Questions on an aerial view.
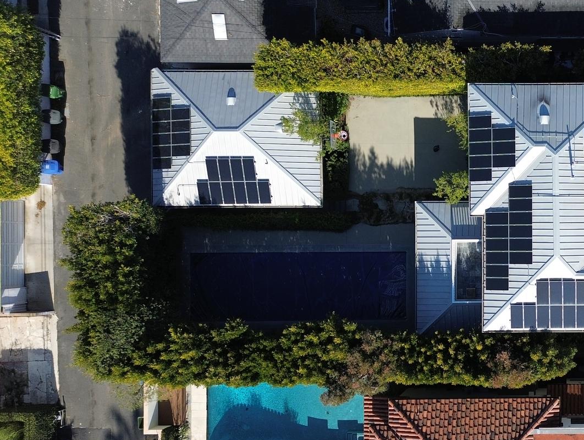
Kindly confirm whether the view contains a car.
No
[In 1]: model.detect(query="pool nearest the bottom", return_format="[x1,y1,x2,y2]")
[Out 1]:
[207,373,385,440]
